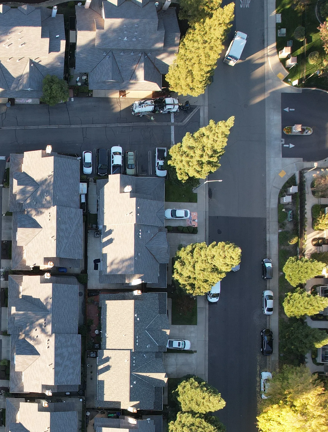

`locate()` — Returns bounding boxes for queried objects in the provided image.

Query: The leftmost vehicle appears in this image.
[82,149,94,176]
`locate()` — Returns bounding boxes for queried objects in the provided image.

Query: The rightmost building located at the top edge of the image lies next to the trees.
[73,0,180,91]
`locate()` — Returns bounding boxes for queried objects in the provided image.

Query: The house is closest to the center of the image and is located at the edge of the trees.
[94,174,171,288]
